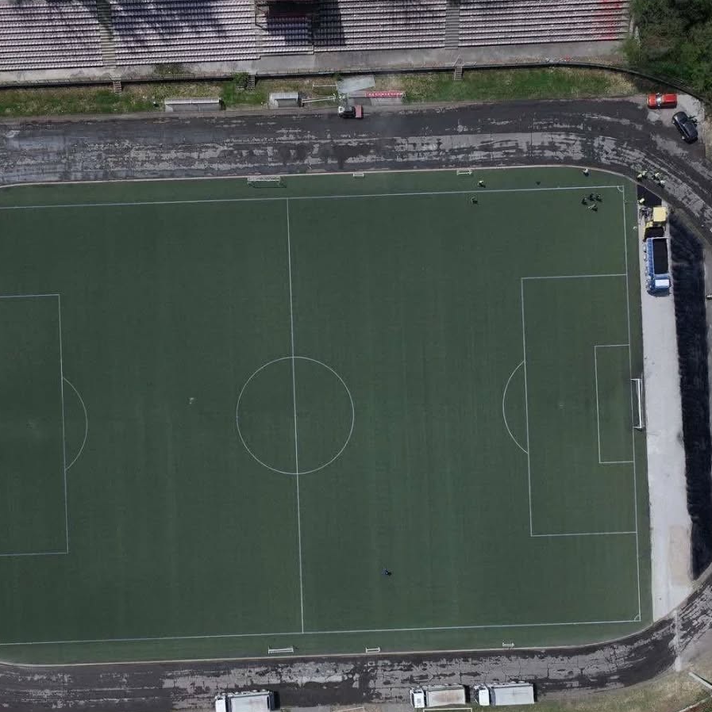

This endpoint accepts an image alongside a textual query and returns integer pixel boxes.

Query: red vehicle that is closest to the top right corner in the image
[644,94,676,109]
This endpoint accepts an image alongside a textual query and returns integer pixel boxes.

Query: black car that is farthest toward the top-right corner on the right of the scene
[674,114,696,144]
